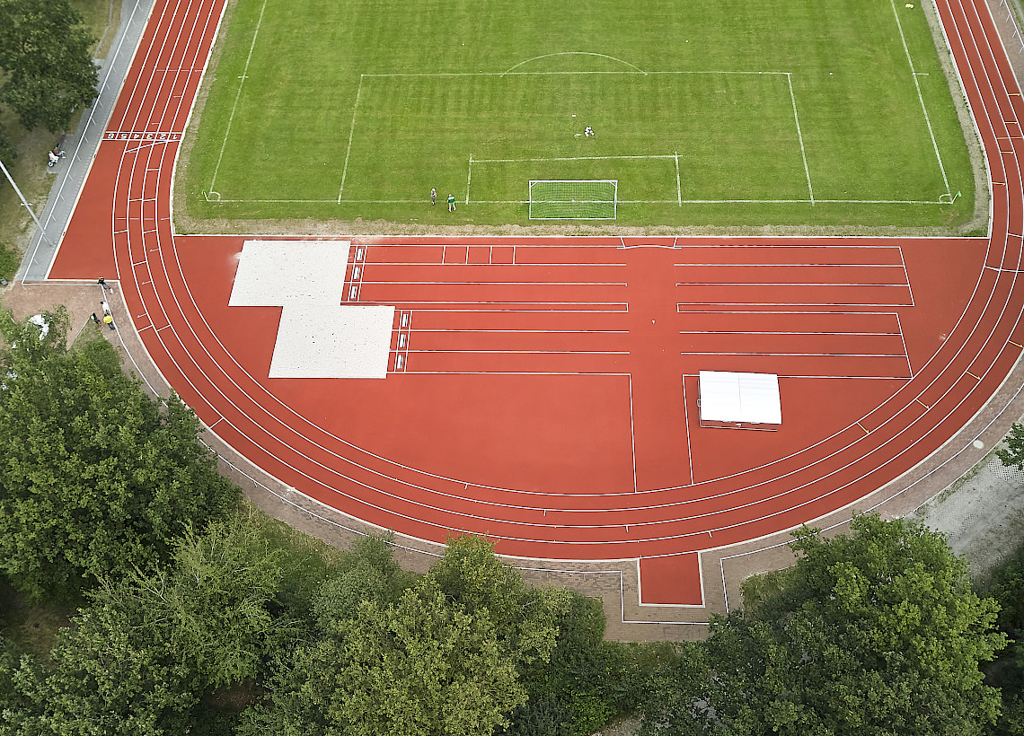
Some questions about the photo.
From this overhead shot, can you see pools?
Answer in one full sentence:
No, I can see no pool in this picture.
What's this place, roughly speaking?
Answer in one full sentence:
It's a sports ground.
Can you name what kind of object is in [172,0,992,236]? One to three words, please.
sports field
